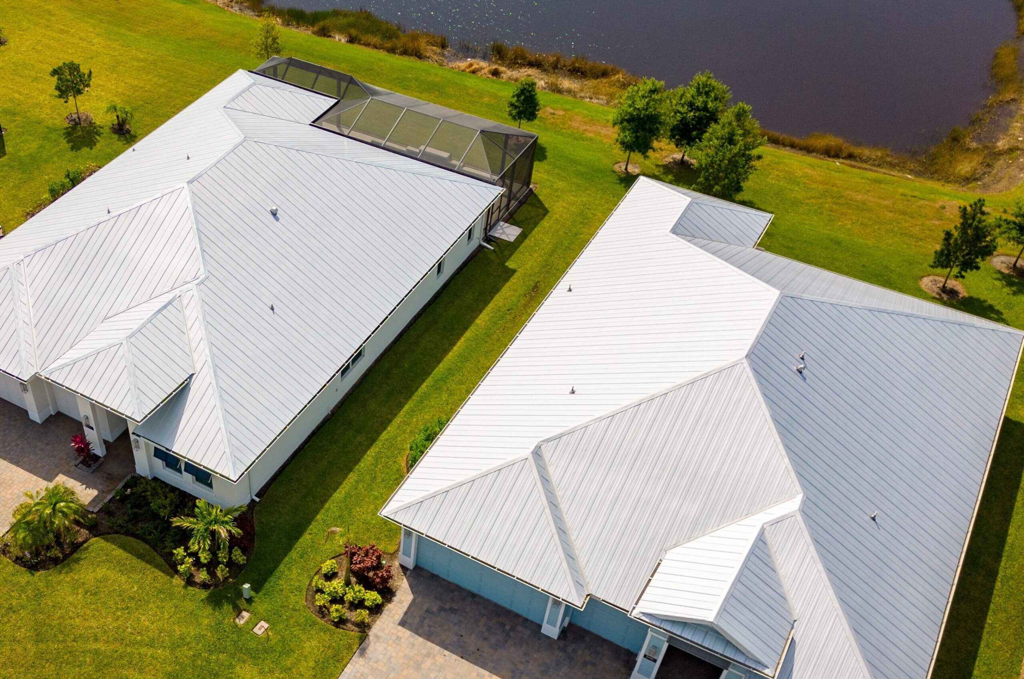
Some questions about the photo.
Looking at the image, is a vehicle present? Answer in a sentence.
No, no vehicle is visible in the view.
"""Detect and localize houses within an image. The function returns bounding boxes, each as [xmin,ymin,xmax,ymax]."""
[0,68,506,513]
[371,173,1024,679]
